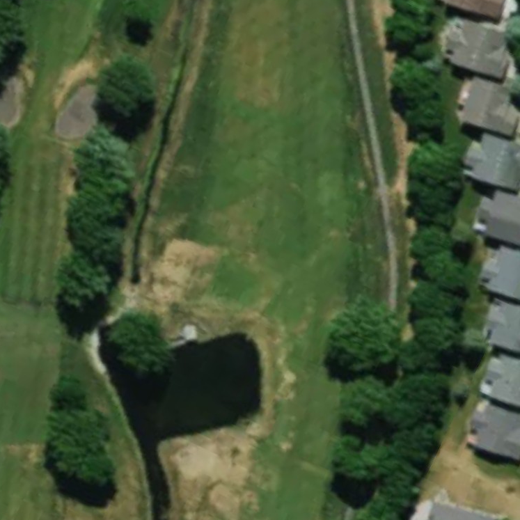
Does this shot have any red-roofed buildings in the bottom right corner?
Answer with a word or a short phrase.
No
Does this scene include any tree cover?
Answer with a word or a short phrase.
Yes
